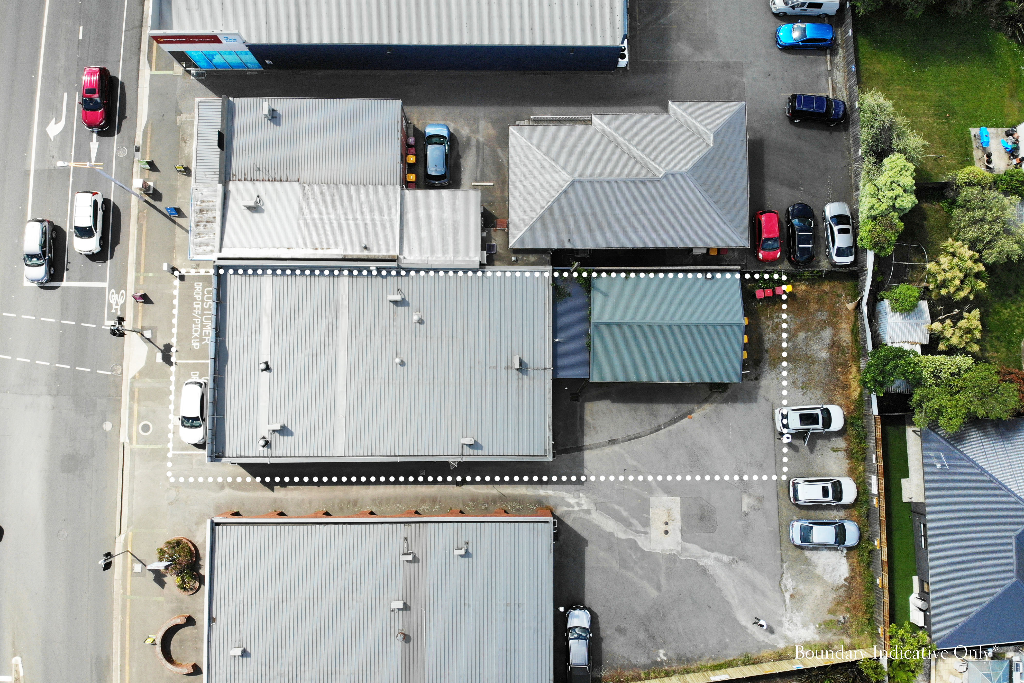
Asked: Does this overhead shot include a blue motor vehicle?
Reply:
Yes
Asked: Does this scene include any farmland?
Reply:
No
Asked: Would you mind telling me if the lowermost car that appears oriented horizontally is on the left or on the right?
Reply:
right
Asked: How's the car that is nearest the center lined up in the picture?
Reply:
vertically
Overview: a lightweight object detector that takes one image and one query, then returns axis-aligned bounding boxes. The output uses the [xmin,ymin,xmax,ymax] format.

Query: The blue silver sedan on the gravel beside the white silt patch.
[790,519,863,552]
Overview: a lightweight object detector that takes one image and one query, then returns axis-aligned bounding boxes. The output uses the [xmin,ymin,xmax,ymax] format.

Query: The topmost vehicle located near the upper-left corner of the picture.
[74,66,111,129]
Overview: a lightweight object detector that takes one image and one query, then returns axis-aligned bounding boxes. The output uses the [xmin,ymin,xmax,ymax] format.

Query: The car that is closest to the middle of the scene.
[420,123,451,184]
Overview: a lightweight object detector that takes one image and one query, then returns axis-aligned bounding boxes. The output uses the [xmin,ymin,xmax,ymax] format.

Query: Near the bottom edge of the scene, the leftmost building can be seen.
[201,510,559,683]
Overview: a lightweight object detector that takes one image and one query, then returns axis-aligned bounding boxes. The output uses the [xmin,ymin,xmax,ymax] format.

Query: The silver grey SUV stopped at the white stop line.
[14,218,55,284]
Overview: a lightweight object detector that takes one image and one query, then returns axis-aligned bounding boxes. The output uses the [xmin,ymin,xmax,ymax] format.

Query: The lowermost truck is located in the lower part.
[563,603,596,683]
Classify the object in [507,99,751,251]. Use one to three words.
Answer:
house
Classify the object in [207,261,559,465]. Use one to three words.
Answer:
building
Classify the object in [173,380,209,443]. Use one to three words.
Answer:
car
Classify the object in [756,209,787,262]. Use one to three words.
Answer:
car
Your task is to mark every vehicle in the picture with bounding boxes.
[420,123,451,184]
[65,190,105,254]
[777,402,848,447]
[790,476,861,510]
[563,603,596,683]
[756,209,787,262]
[823,201,858,264]
[14,218,55,284]
[173,380,209,443]
[787,202,820,264]
[790,519,863,552]
[788,91,850,125]
[74,66,111,129]
[773,0,845,16]
[778,16,838,49]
